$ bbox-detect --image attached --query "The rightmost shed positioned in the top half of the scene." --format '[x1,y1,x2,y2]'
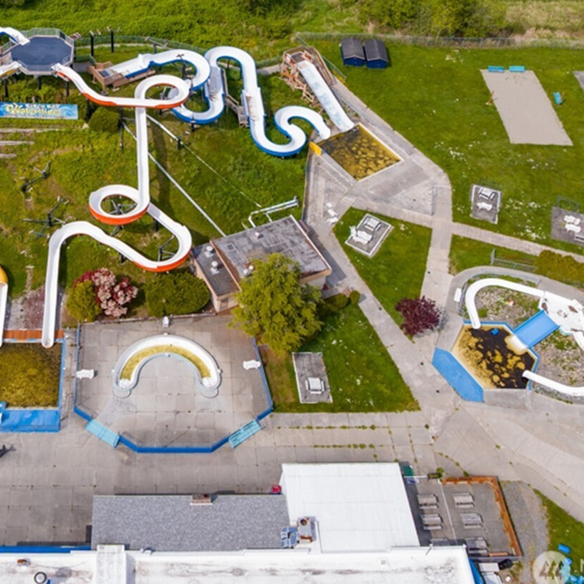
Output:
[365,37,389,70]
